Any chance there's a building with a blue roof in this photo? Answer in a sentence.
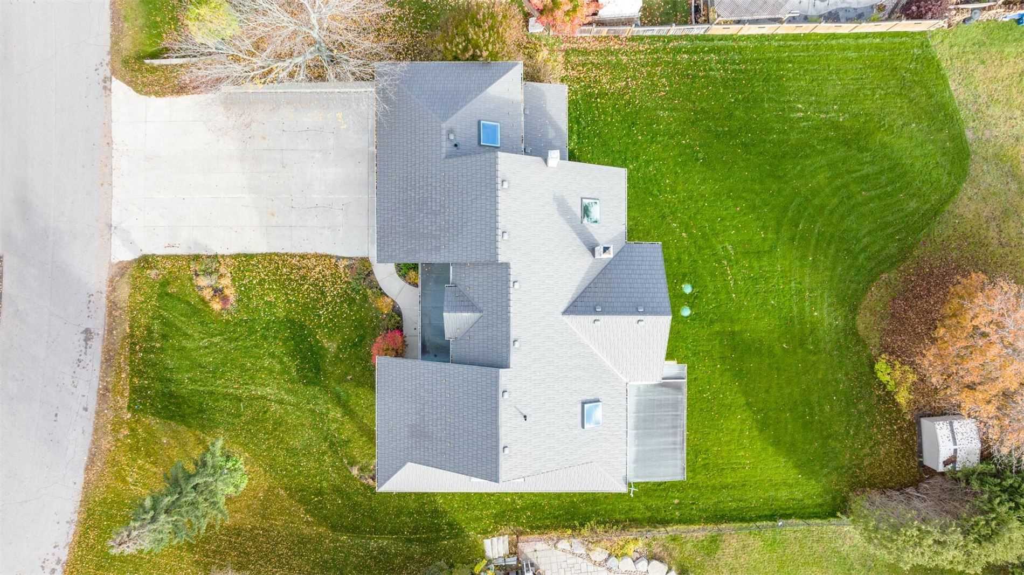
No, the photo shows no building with a blue roof.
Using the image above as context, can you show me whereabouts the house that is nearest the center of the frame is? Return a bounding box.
[374,60,686,494]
